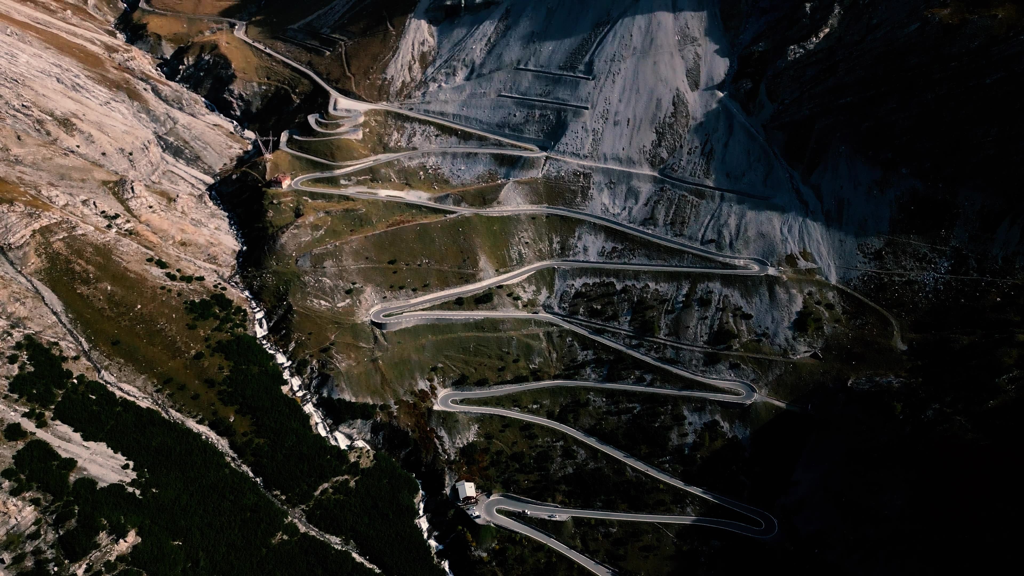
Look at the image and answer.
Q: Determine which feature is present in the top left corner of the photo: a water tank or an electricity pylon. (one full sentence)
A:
It is an electricity pylon that can be seen in the top left corner of the photo.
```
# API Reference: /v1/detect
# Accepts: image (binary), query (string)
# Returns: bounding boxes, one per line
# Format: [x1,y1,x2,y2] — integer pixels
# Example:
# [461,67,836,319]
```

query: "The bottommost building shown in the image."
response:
[452,479,475,511]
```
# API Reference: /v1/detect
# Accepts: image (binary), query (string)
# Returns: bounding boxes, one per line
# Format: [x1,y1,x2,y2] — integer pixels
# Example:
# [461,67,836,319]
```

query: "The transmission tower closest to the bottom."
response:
[249,127,275,158]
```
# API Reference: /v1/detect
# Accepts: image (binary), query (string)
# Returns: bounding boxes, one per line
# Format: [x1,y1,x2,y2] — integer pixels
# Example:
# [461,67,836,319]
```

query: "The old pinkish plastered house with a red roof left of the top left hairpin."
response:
[267,169,294,188]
